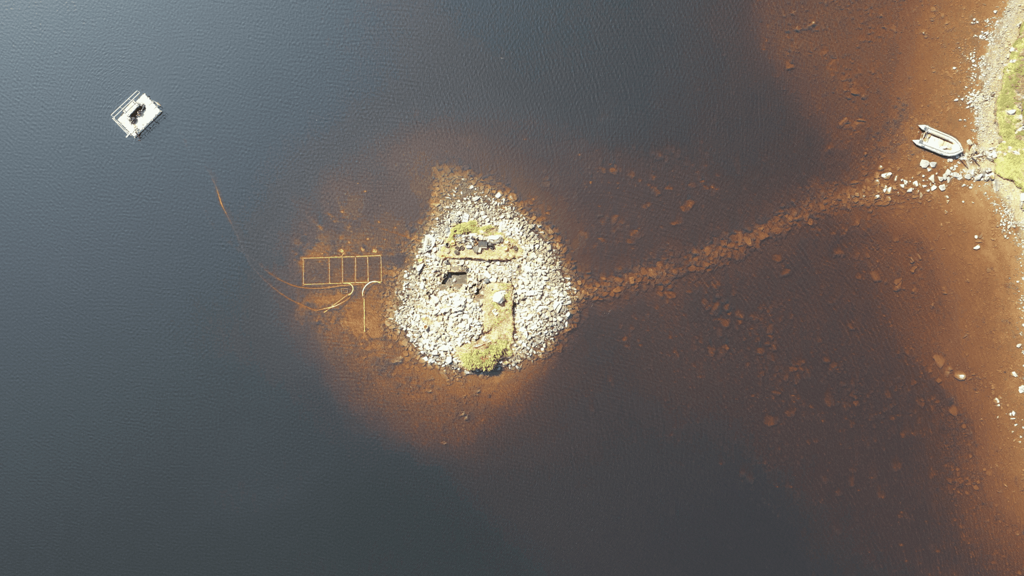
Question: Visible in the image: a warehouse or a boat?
boat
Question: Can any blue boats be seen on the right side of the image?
No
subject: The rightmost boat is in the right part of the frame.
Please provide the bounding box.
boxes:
[912,124,965,156]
